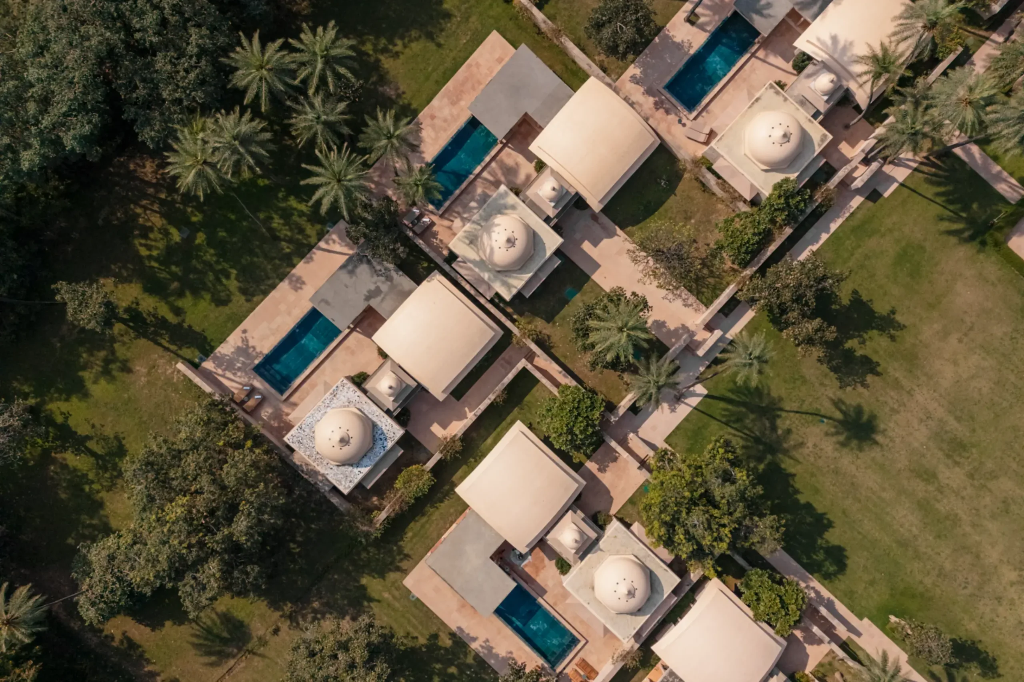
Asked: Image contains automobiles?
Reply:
No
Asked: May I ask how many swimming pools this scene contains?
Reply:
four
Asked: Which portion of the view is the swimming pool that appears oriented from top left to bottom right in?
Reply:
bottom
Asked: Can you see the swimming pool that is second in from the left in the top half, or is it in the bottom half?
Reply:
top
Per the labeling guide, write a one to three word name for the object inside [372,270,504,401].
house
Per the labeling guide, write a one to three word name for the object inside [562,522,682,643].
building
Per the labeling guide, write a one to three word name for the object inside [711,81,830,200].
building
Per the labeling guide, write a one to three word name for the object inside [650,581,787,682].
house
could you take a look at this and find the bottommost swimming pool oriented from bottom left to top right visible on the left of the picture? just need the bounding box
[248,304,366,405]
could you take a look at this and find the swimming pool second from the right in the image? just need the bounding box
[488,565,586,674]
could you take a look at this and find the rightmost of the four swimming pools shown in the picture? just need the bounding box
[659,4,787,122]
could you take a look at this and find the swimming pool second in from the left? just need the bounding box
[406,115,521,217]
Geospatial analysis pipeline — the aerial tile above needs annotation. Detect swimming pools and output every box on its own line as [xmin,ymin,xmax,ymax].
[248,304,366,405]
[659,4,787,122]
[406,115,521,217]
[488,565,586,674]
